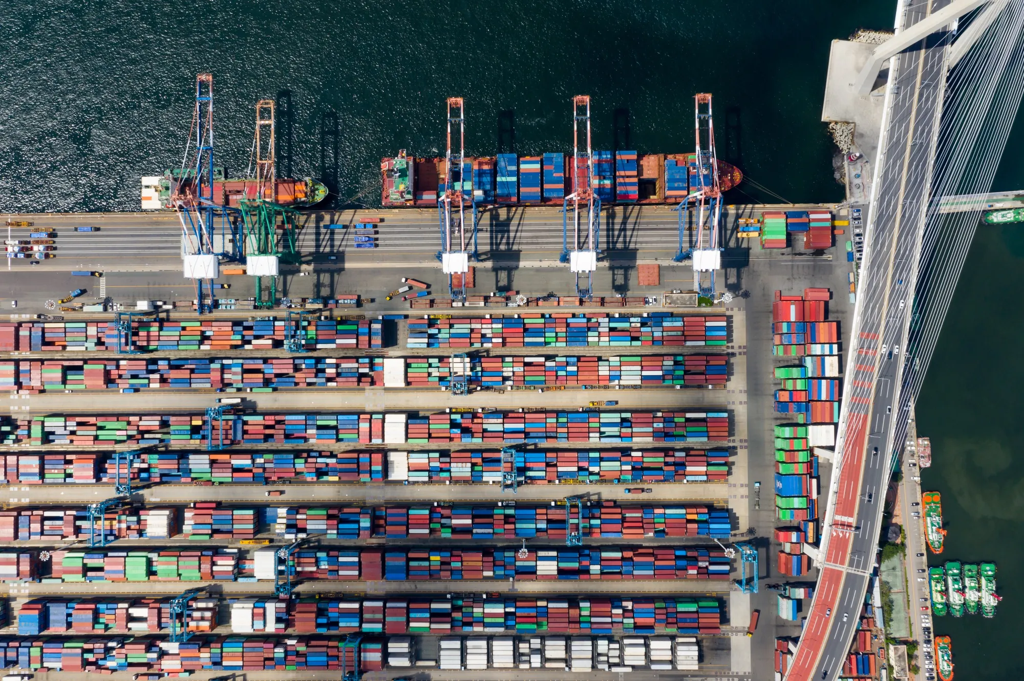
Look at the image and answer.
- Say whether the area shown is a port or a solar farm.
port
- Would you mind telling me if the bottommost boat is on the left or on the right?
right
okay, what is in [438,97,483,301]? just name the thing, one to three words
container crane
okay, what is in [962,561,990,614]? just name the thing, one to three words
boat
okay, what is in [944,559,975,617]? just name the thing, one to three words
boat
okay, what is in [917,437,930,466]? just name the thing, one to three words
ship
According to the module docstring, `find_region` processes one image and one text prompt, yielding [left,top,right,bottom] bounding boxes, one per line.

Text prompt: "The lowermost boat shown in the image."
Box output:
[934,634,964,681]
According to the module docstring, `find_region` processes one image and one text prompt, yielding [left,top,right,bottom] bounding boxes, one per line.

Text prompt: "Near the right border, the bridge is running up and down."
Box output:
[782,0,1024,681]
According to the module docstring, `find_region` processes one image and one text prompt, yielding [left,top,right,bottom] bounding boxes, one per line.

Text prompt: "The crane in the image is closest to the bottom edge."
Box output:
[340,628,363,681]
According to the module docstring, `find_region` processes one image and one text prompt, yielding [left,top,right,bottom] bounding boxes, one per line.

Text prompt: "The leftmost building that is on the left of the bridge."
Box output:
[663,294,697,307]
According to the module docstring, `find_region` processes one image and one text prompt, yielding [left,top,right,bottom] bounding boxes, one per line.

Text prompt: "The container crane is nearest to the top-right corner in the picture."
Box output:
[668,92,726,299]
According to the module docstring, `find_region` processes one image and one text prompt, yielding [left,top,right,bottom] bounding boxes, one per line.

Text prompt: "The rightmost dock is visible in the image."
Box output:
[930,190,1024,213]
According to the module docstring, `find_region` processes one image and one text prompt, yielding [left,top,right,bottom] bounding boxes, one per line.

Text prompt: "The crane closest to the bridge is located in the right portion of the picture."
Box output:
[725,535,759,594]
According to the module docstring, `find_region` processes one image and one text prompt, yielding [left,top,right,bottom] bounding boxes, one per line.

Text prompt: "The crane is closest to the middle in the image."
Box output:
[449,352,476,397]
